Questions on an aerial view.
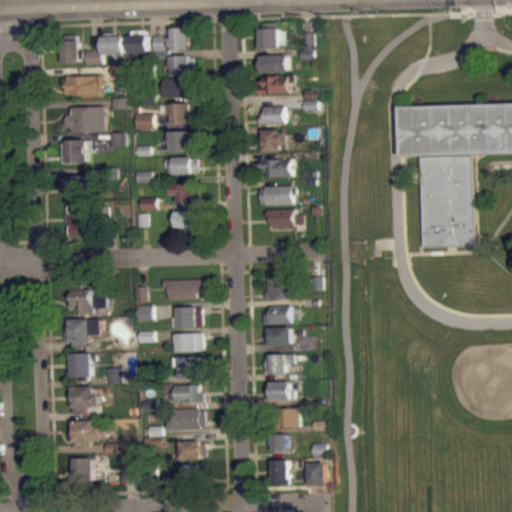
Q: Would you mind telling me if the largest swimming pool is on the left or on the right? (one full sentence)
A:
The largest swimming pool sits on the left side.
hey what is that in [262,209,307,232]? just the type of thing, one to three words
house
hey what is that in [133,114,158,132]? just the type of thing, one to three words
building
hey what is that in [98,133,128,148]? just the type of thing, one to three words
building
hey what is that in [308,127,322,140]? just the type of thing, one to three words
swimming pool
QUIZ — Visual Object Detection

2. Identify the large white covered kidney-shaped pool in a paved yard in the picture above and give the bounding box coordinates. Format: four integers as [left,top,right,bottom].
[112,320,134,350]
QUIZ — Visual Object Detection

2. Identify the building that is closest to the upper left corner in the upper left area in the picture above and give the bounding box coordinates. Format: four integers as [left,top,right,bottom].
[62,36,85,63]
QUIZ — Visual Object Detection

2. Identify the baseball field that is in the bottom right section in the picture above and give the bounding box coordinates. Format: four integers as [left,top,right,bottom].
[452,343,512,420]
